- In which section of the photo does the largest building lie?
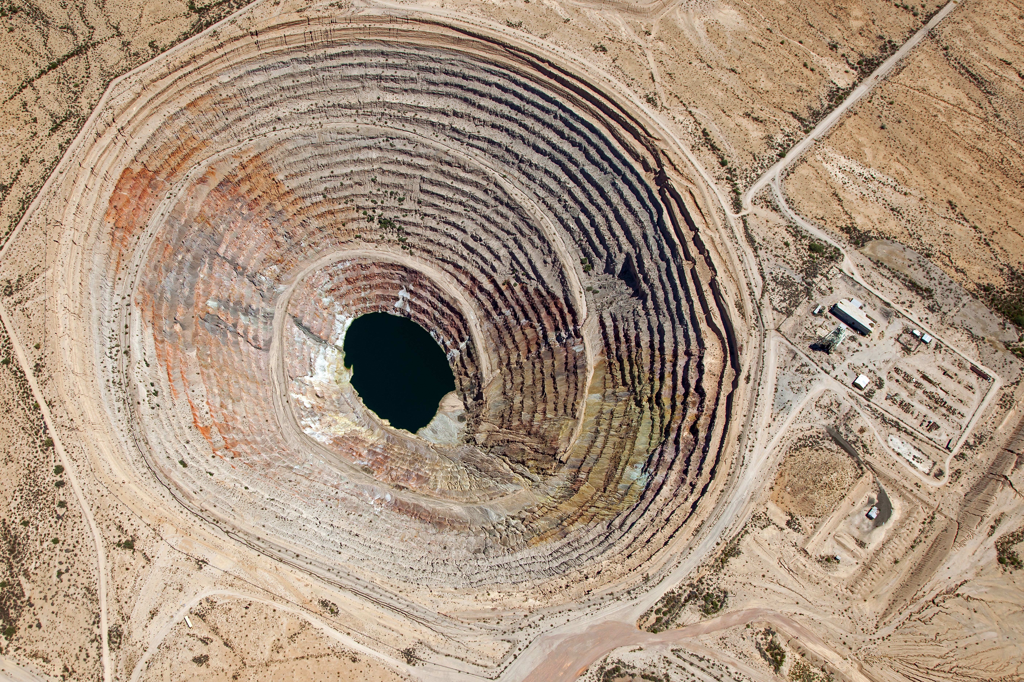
right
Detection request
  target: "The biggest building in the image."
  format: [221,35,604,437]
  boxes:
[835,299,876,334]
